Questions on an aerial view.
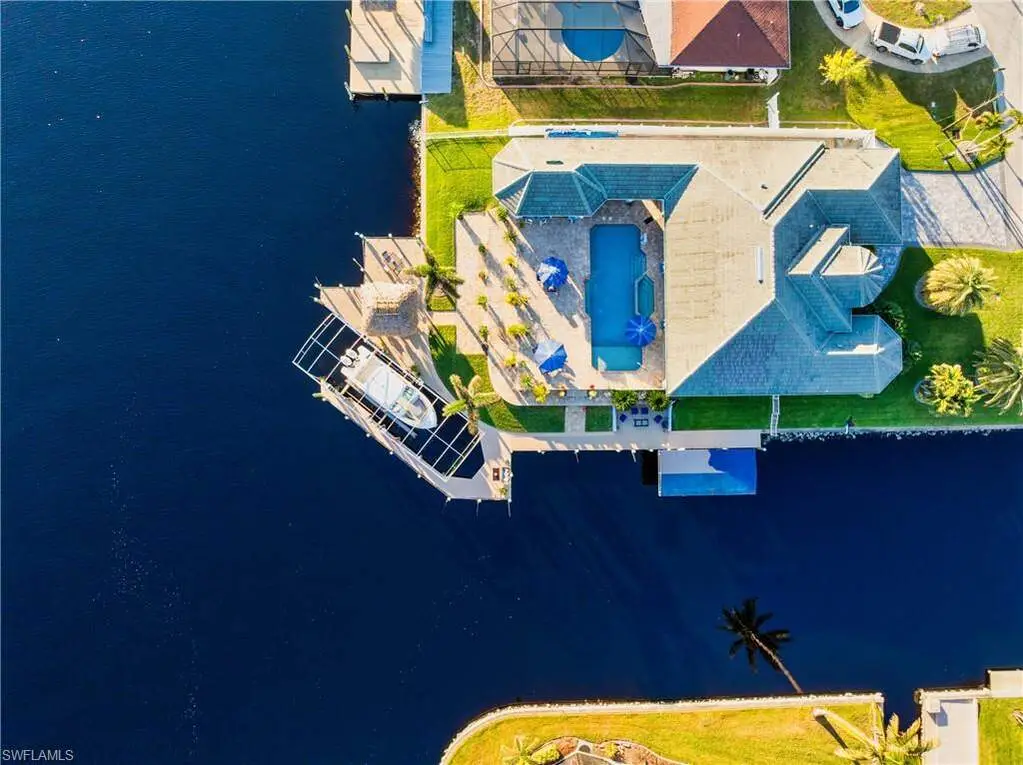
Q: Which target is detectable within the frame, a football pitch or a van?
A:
van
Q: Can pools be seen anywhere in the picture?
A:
Yes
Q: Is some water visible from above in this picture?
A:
Yes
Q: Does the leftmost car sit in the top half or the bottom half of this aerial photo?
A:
top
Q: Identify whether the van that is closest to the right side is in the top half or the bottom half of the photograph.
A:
top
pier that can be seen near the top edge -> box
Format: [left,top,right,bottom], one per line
[350,0,421,96]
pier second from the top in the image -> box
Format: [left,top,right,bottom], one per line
[319,238,421,366]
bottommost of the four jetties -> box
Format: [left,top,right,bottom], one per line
[985,666,1023,696]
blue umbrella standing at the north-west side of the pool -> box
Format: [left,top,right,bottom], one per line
[536,259,568,290]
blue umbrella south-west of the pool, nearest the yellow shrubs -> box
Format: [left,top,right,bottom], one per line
[533,340,565,372]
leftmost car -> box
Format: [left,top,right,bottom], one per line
[832,0,863,30]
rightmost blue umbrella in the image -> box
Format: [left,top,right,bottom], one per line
[623,315,655,347]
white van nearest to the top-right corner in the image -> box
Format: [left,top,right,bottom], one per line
[931,21,989,57]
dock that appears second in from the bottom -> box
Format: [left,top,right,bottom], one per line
[321,382,511,499]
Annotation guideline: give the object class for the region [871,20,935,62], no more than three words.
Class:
truck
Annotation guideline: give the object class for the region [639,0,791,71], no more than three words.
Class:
house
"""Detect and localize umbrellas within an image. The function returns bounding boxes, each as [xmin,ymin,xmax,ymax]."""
[533,340,565,372]
[623,315,655,347]
[536,259,568,290]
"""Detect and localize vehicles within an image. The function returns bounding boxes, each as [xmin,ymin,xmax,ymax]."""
[832,0,863,30]
[931,21,989,57]
[871,20,935,62]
